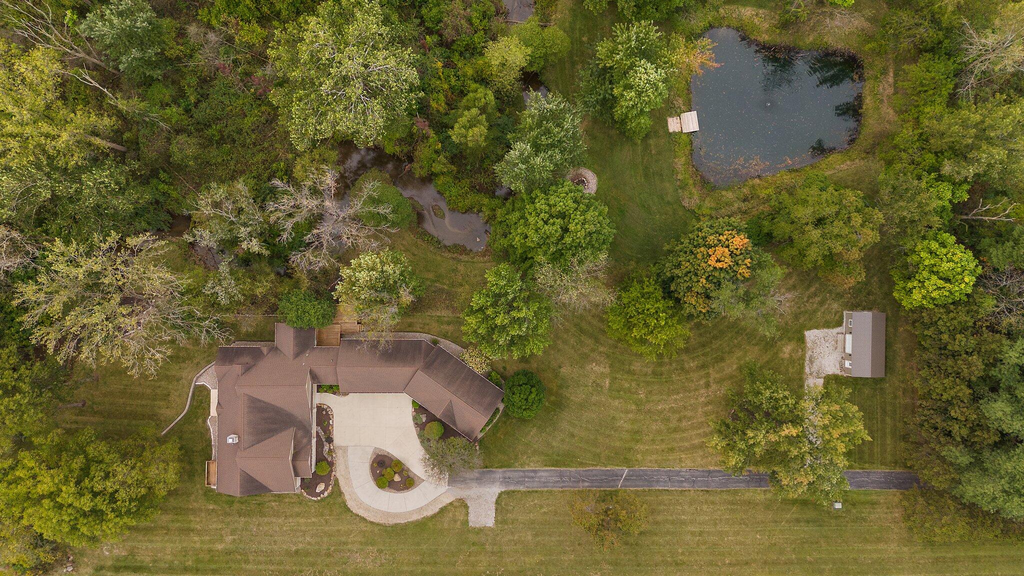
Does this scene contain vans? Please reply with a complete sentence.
No, there is no van in the image.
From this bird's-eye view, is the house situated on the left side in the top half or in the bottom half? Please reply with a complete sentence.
The bottom half of the photo is where the house situated on the left side is.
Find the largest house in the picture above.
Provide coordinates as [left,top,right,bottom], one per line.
[213,322,506,496]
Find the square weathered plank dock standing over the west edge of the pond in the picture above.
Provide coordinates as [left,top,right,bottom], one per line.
[680,110,700,132]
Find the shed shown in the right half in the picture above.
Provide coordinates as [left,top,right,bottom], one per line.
[844,312,885,378]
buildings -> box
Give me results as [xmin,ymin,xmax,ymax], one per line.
[844,312,885,378]
[213,322,506,496]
